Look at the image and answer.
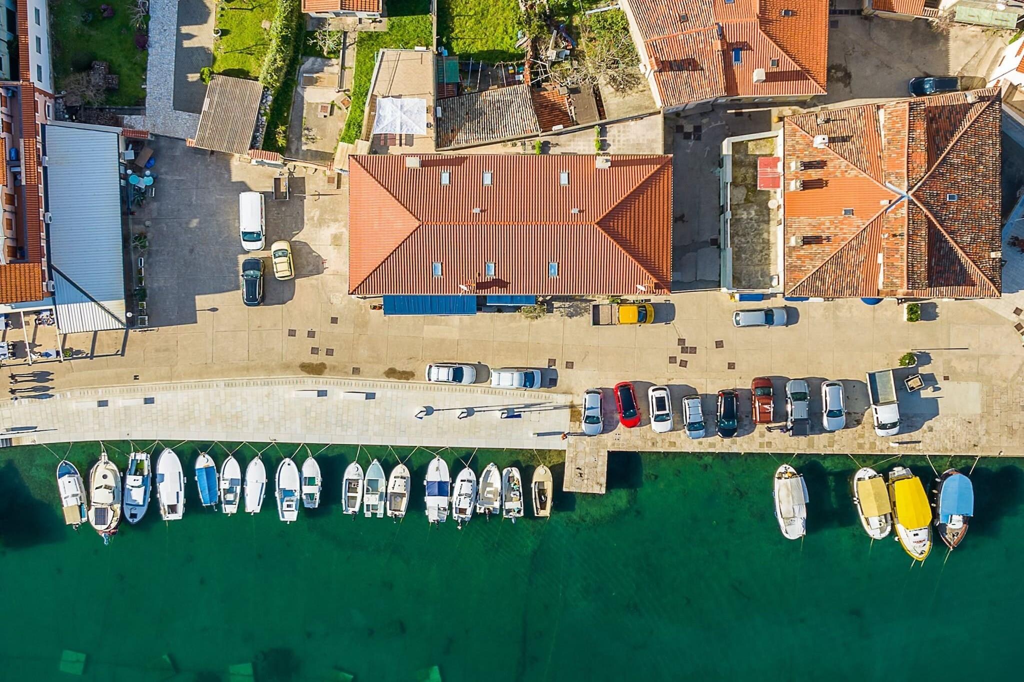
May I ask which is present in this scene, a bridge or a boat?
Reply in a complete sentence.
Visible in the photo is a boat.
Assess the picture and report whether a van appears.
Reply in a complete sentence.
Yes, I can see a van in this picture.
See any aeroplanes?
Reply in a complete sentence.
No, this view has no aeroplane in it.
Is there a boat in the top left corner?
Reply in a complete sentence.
No, no boat appears in the top left corner.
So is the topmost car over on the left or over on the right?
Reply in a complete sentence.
The topmost car is on the right side of the image.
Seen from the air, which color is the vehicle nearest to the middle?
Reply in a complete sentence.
The color of the vehicle nearest to the middle is white.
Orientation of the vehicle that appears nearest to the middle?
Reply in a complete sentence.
I'd say the vehicle that appears nearest to the middle is aligned from left to right in the picture.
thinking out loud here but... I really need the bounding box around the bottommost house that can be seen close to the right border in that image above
[773,86,1006,304]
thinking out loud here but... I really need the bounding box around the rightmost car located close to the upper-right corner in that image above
[907,72,961,97]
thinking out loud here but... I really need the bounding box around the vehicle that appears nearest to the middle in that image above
[491,367,541,391]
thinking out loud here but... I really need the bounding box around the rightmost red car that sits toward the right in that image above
[749,376,776,425]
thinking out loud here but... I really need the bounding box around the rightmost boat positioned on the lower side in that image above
[934,469,977,551]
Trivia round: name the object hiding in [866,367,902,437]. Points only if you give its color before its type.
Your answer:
white truck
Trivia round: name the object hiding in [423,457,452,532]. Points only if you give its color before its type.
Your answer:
white boat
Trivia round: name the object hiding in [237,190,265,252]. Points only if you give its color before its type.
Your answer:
white van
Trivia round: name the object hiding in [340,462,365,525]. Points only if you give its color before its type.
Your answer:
white boat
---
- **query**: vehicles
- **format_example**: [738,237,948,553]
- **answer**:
[581,388,606,436]
[237,190,265,252]
[491,367,541,391]
[271,240,296,281]
[239,257,265,307]
[680,394,706,440]
[591,303,653,327]
[426,362,476,386]
[749,376,776,425]
[820,380,847,431]
[647,384,674,434]
[613,380,641,429]
[784,378,811,437]
[866,367,902,437]
[732,305,786,329]
[907,72,961,97]
[716,388,740,439]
